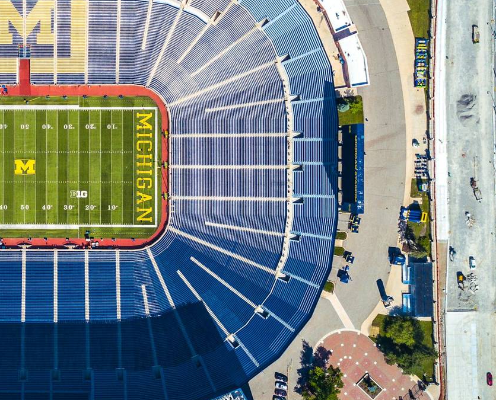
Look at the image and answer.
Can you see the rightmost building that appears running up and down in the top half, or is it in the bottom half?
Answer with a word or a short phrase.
bottom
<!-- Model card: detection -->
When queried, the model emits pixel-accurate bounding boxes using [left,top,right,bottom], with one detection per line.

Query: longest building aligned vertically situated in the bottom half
[411,261,433,317]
